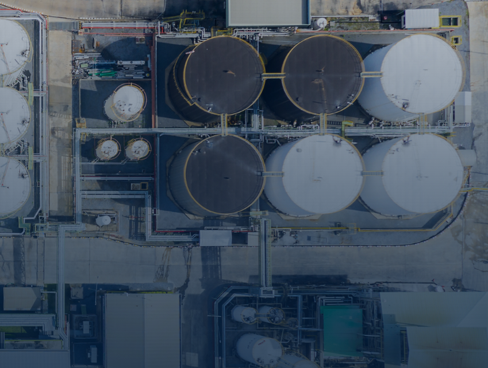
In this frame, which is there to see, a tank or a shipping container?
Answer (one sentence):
Looking from above, you can make out a tank.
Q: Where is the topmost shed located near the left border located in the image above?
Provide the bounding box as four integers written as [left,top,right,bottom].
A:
[2,287,43,311]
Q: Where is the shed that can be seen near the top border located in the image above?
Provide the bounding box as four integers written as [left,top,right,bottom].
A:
[397,8,440,30]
